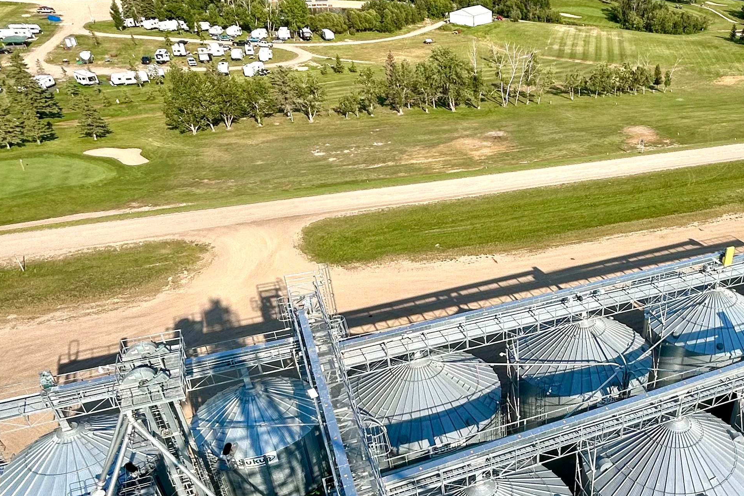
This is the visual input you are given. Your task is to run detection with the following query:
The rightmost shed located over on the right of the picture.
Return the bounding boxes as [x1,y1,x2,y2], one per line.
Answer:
[451,2,498,26]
